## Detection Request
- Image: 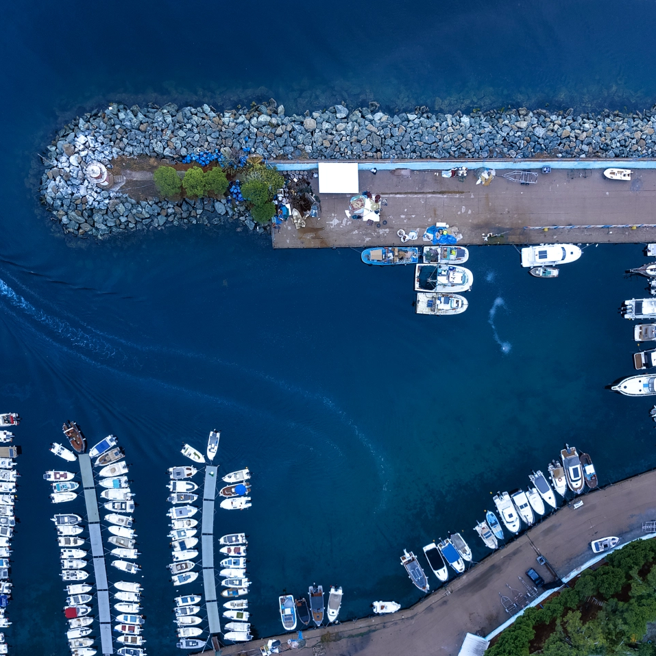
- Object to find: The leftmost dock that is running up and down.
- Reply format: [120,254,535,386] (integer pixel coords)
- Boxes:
[78,453,114,653]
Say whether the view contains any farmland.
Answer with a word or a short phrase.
No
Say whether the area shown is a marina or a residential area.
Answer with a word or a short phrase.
marina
